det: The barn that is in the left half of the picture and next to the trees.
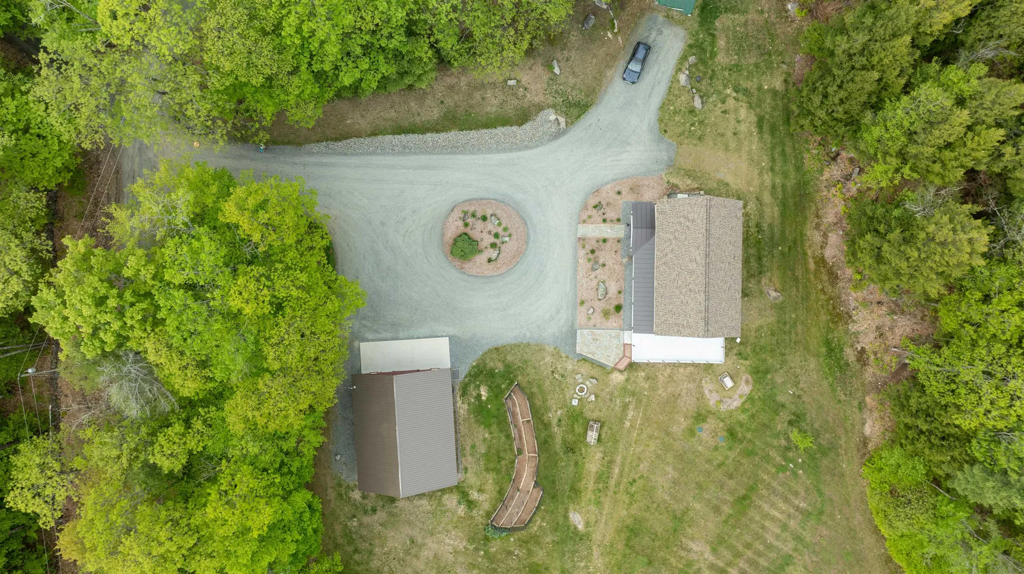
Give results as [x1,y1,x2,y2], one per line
[351,368,459,498]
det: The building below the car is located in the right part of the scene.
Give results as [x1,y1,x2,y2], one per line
[629,196,743,338]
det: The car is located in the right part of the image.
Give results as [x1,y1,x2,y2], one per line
[623,41,651,85]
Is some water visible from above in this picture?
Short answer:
No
